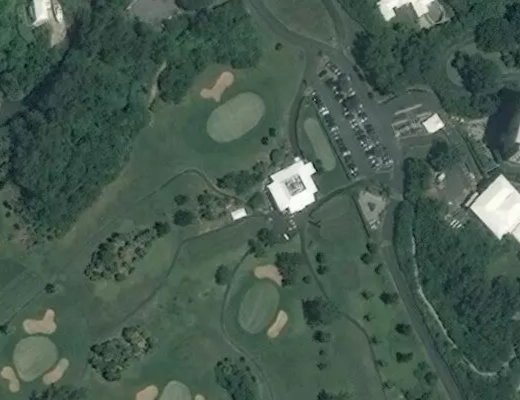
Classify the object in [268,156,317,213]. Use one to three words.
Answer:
building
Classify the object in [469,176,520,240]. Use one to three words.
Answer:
building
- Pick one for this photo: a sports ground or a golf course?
golf course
